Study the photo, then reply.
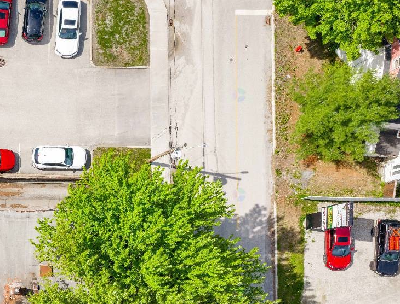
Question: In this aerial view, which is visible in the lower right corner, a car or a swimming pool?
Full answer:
It is a car that can be seen in the lower right corner.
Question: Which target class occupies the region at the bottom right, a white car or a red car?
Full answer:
What appears at the bottom right is a red car.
